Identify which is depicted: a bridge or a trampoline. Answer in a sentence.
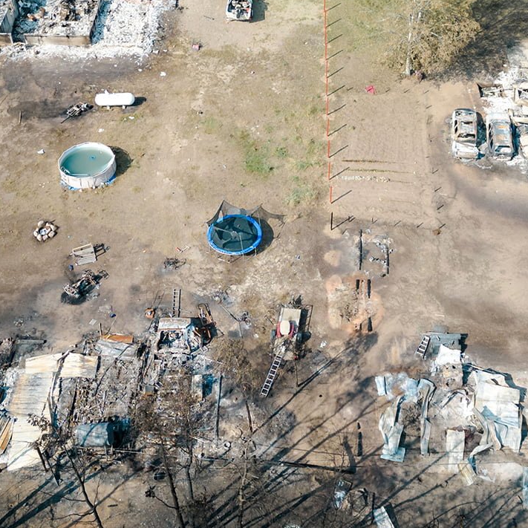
It is a trampoline that can be seen here.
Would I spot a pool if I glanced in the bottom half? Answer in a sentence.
No, no pool appears in the bottom half.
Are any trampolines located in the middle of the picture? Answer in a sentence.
Yes, in the middle of the picture there is a trampoline.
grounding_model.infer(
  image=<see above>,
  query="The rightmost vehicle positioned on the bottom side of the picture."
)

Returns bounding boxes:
[267,298,309,354]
